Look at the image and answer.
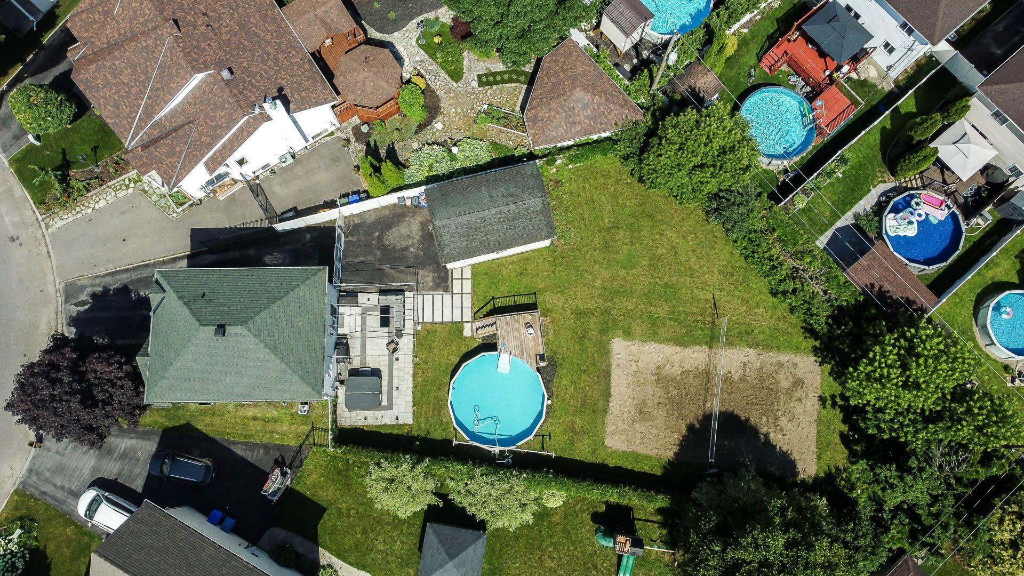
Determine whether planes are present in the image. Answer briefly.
No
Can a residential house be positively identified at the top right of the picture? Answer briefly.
Yes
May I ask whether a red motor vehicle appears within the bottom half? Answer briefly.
No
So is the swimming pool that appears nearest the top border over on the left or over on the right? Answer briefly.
right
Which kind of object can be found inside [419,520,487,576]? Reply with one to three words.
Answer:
building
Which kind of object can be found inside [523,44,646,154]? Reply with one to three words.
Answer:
building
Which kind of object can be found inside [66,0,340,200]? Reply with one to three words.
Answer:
house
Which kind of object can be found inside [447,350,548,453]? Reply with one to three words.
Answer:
swimming pool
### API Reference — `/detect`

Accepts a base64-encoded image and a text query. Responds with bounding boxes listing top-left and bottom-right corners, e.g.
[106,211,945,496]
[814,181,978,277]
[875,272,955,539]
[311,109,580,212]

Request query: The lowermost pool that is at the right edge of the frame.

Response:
[972,288,1024,363]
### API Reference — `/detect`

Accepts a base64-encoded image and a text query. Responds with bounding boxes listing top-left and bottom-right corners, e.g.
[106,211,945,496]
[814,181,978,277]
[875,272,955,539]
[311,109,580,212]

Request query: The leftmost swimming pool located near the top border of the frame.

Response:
[640,0,713,40]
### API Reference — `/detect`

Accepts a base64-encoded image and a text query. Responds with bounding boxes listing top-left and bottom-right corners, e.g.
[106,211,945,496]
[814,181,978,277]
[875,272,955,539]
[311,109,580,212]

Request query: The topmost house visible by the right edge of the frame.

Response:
[837,0,990,80]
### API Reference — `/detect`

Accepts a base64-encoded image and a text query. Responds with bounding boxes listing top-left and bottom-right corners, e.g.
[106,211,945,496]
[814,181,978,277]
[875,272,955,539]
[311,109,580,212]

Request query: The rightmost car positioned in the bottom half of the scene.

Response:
[149,450,222,488]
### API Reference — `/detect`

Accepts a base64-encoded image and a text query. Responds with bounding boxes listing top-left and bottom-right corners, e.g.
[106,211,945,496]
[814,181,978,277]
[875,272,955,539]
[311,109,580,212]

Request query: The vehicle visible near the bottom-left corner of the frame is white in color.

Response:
[74,493,134,538]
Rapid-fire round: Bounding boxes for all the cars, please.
[149,450,222,488]
[74,493,134,538]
